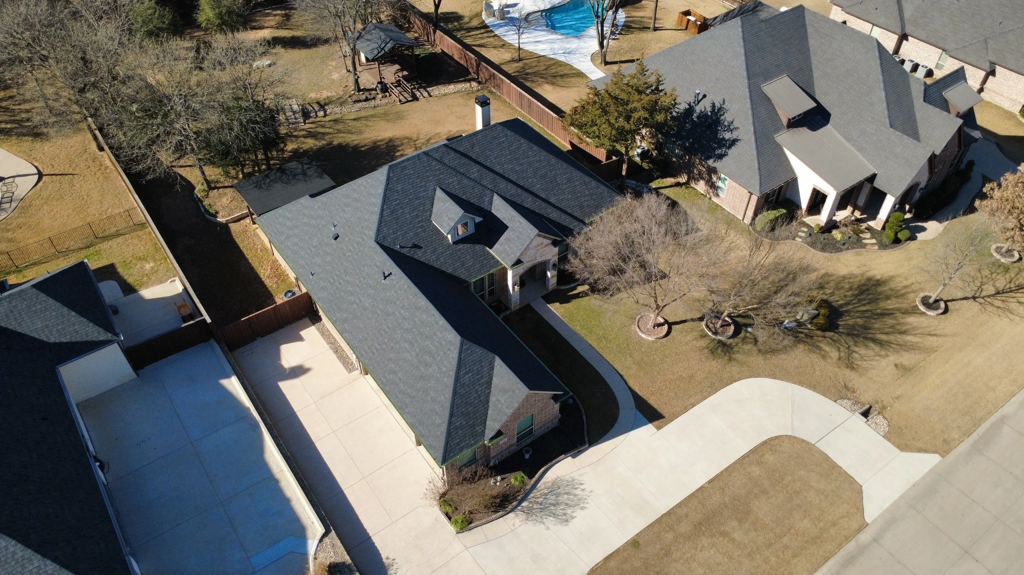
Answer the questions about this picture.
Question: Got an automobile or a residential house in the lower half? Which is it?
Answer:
residential house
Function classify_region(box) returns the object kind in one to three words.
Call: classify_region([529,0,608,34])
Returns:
swimming pool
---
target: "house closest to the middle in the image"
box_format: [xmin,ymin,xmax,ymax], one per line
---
[232,88,632,493]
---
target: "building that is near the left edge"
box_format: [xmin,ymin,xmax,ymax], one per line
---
[0,259,138,575]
